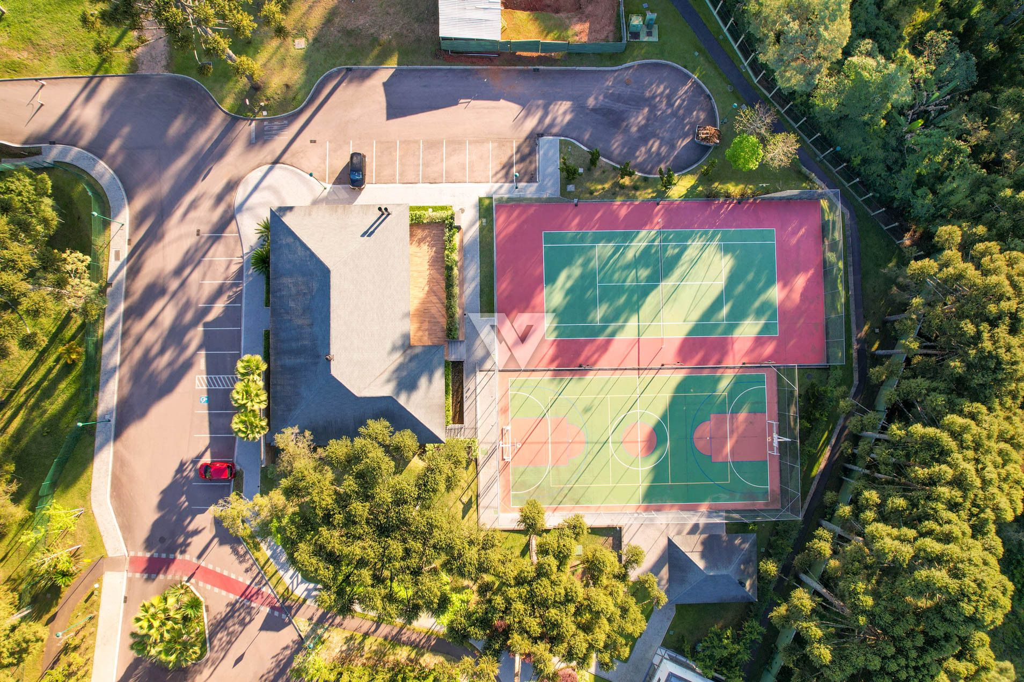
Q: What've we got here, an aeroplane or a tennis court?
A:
tennis court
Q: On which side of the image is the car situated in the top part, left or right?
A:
left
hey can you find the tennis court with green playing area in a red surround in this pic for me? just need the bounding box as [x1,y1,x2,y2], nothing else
[495,199,825,369]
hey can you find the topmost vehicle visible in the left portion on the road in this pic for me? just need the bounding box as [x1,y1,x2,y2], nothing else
[346,149,367,189]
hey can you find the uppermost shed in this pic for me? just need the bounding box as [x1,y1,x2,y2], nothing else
[438,0,503,43]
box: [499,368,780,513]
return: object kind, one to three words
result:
sports court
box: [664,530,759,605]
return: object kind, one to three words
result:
building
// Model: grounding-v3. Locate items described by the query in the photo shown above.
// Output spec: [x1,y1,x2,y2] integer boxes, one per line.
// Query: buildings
[269,203,446,448]
[664,530,759,605]
[636,641,748,682]
[438,0,503,43]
